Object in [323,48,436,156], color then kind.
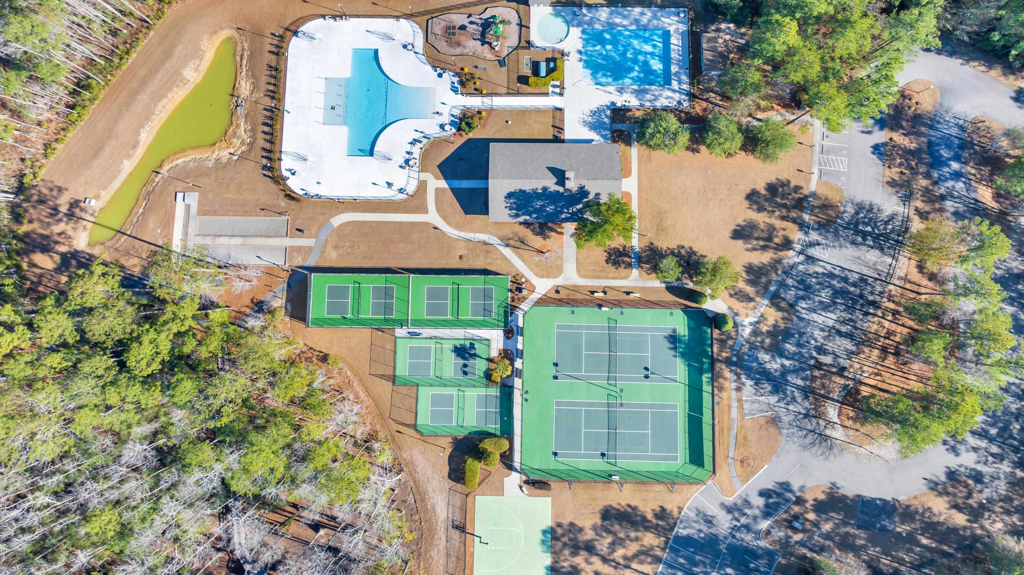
blue swimming pool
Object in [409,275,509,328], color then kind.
green sports court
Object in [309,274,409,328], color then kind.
green sports court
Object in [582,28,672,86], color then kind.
blue swimming pool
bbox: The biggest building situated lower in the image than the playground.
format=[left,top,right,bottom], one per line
[489,142,623,223]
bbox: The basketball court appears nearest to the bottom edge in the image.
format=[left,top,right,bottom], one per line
[474,496,551,575]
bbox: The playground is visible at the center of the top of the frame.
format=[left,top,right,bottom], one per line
[426,5,522,61]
